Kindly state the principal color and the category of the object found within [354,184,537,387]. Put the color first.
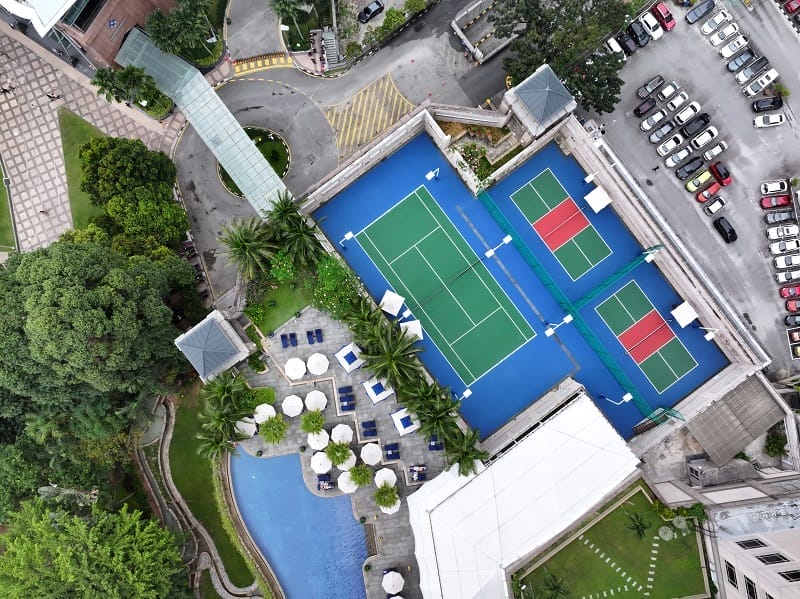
green tennis court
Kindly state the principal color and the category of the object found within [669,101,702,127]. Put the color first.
white car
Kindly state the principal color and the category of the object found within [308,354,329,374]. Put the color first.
white umbrella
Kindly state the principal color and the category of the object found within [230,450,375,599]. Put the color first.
blue swimming pool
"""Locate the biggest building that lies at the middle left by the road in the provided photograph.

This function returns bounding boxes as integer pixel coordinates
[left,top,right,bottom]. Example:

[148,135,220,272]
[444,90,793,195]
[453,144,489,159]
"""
[173,306,252,388]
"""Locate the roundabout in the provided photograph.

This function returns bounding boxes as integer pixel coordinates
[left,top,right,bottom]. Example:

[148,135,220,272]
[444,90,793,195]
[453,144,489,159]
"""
[214,123,291,199]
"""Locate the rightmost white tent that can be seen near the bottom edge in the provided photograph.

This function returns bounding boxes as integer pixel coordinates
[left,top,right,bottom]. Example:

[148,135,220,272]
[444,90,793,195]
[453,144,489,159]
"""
[407,389,641,599]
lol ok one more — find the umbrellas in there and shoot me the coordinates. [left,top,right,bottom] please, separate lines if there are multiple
[308,428,329,449]
[253,401,277,424]
[381,569,404,593]
[375,466,396,488]
[331,422,354,445]
[338,447,358,469]
[308,354,329,374]
[284,356,307,379]
[235,416,257,437]
[360,442,382,465]
[305,389,327,410]
[309,451,332,473]
[336,470,358,494]
[378,493,402,515]
[282,394,304,416]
